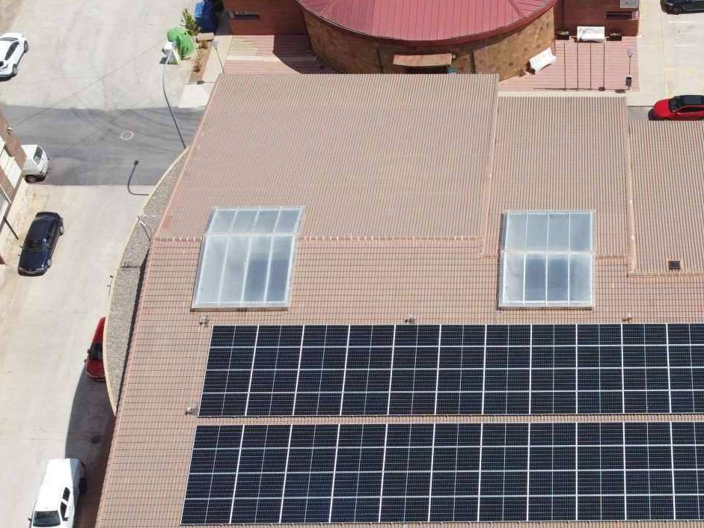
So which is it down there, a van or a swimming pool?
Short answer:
van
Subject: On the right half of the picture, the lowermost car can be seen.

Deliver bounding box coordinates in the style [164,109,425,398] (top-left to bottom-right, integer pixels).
[653,86,704,120]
